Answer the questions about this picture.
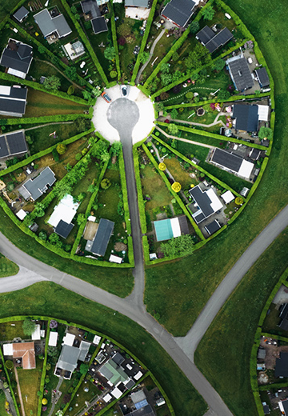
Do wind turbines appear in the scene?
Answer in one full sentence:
No, I can't see a single wind turbine in this photo.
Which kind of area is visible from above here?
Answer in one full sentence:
What you see here is a residential area.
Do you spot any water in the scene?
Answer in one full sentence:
No, the picture contains no water.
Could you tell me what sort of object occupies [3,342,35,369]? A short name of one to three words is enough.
house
